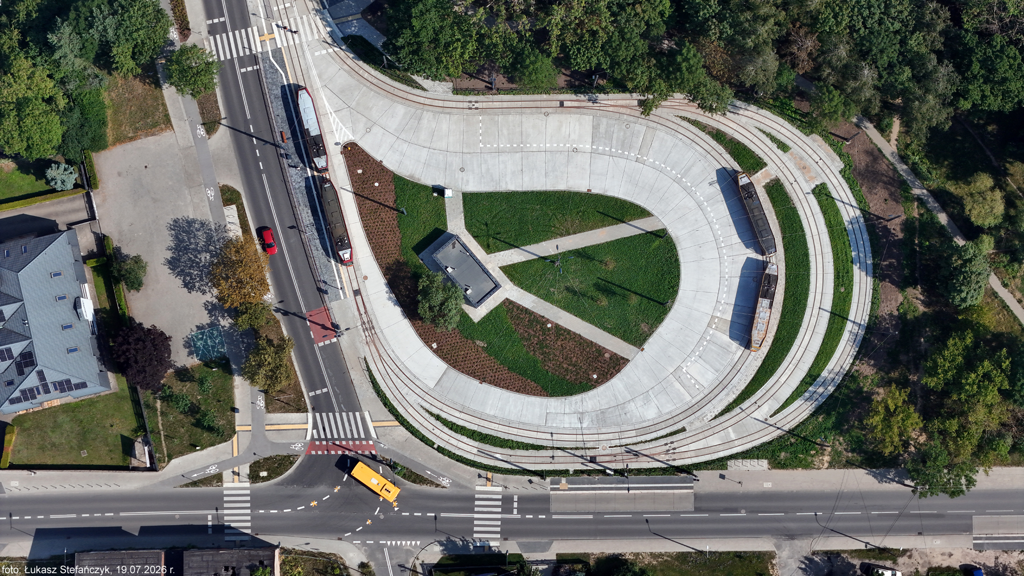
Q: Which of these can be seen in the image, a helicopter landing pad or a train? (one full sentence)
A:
I can see a train in this picture.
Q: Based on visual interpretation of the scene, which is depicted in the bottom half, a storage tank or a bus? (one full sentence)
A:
Looking in the bottom half, you will find a bus.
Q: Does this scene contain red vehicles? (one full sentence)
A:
Yes, there's a red vehicle here.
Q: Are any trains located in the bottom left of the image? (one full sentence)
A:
No, no train appears in the bottom left of the image.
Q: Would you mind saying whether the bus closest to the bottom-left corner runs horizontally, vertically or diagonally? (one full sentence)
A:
From this overhead view, the bus closest to the bottom-left corner appears to run diagonally.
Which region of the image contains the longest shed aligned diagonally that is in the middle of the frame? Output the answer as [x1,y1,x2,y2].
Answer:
[433,235,501,307]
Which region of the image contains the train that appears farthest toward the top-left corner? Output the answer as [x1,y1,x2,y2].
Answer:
[299,89,329,176]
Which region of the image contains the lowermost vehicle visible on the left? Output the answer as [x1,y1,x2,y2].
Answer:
[353,462,402,503]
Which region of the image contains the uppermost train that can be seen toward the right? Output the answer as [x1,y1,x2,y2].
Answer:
[736,174,776,259]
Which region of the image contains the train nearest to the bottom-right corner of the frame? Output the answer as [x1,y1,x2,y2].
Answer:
[747,262,777,350]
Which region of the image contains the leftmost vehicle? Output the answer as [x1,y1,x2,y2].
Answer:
[260,229,276,254]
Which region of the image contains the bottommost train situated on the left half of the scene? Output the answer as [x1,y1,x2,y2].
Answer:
[323,180,355,267]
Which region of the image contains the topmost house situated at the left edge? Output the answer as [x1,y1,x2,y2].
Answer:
[0,228,112,414]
